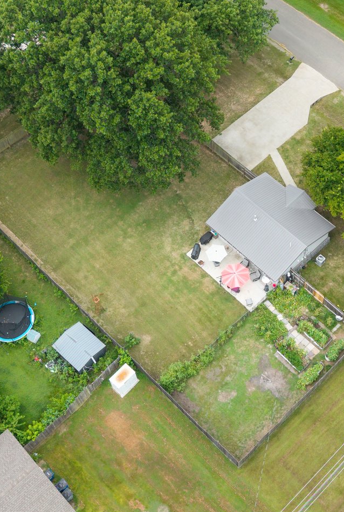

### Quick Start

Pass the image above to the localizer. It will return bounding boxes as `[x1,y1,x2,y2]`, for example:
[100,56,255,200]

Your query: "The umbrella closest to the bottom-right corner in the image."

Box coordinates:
[216,261,250,292]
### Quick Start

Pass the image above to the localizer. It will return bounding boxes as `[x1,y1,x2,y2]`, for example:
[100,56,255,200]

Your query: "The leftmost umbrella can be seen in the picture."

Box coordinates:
[206,243,228,265]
